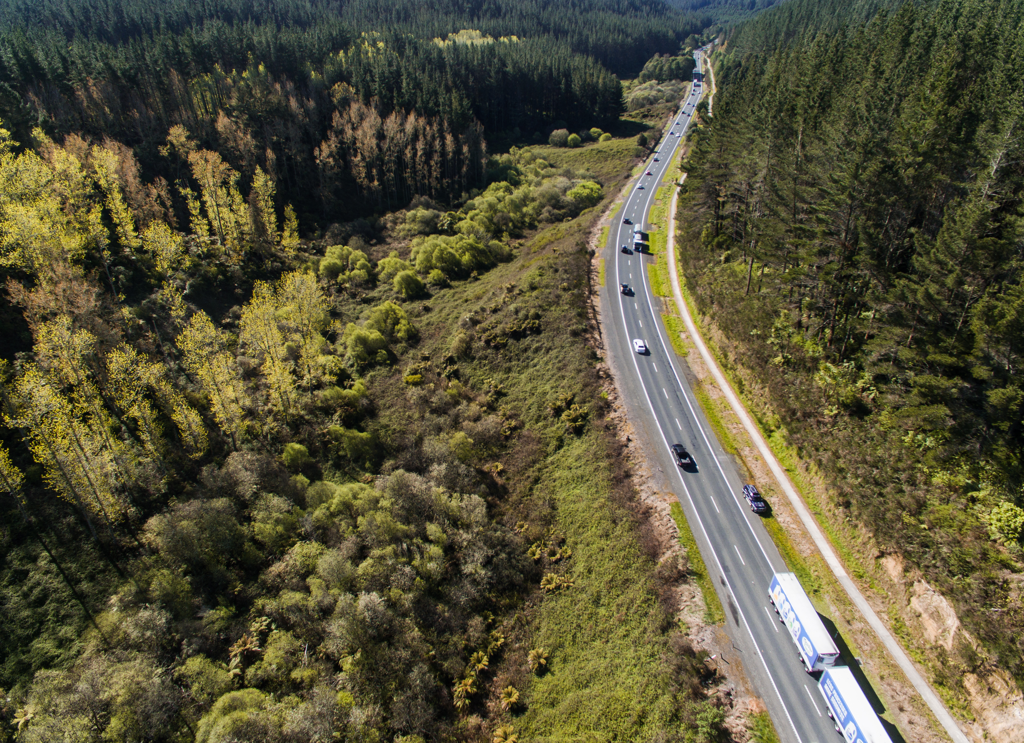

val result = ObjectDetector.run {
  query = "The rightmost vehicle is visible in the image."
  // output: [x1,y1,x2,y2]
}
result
[818,665,894,743]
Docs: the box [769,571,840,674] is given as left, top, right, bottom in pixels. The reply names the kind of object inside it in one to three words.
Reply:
trailer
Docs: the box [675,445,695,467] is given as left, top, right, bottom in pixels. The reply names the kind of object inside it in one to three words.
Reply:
vehicle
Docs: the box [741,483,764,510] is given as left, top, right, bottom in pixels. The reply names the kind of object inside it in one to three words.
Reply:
car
